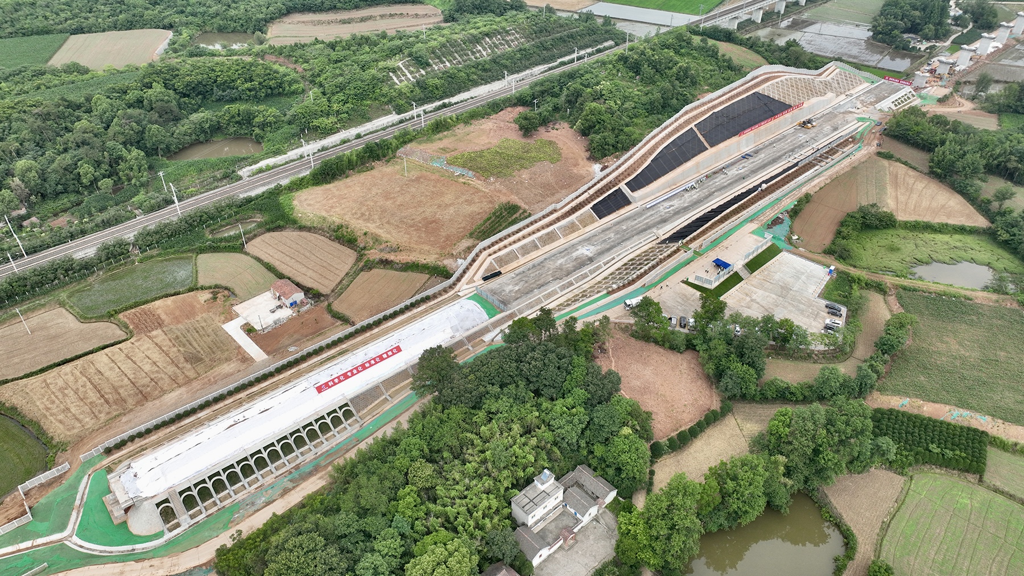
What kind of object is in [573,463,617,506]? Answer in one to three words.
house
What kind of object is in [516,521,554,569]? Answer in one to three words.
house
